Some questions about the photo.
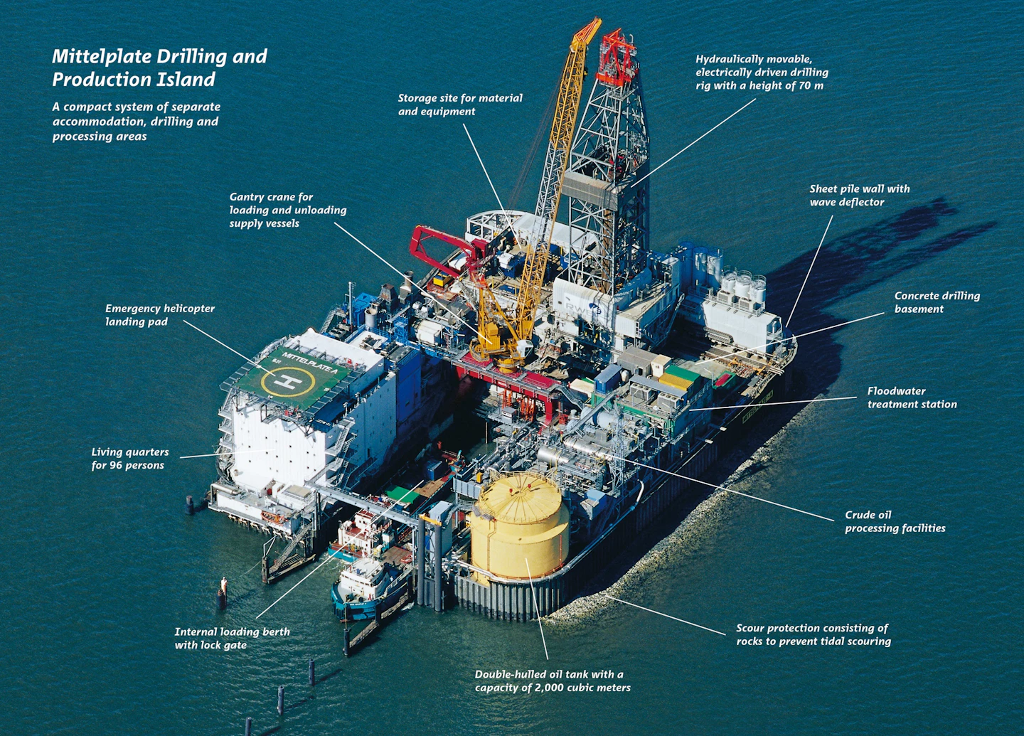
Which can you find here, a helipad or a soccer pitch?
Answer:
helipad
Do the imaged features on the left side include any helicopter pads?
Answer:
Yes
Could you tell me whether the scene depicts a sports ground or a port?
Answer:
port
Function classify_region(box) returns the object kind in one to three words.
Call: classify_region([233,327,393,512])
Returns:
building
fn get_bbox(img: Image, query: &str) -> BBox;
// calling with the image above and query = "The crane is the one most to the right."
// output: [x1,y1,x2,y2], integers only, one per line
[466,16,601,374]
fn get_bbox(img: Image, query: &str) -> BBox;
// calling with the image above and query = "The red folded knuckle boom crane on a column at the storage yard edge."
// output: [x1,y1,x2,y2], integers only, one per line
[407,222,506,293]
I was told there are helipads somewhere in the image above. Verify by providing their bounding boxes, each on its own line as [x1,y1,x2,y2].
[223,343,363,440]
